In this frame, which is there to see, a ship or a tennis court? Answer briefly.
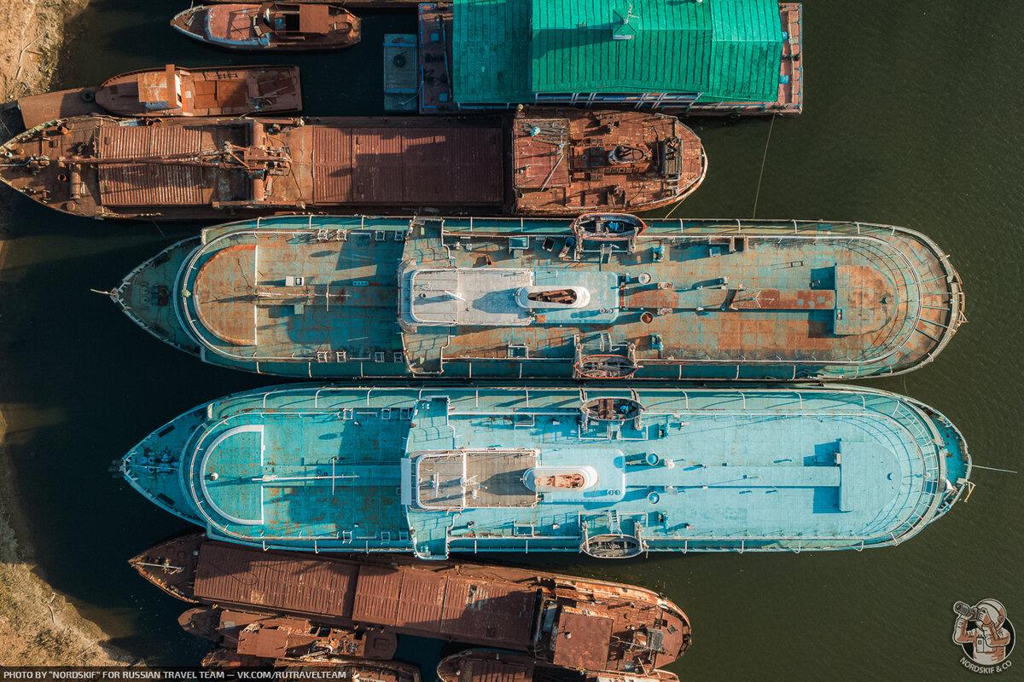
ship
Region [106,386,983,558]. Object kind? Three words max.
ship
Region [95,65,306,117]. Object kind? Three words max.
boat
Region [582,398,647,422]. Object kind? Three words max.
boat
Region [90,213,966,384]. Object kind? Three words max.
ship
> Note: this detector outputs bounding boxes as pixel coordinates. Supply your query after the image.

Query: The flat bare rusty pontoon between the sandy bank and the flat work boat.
[18,86,125,128]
